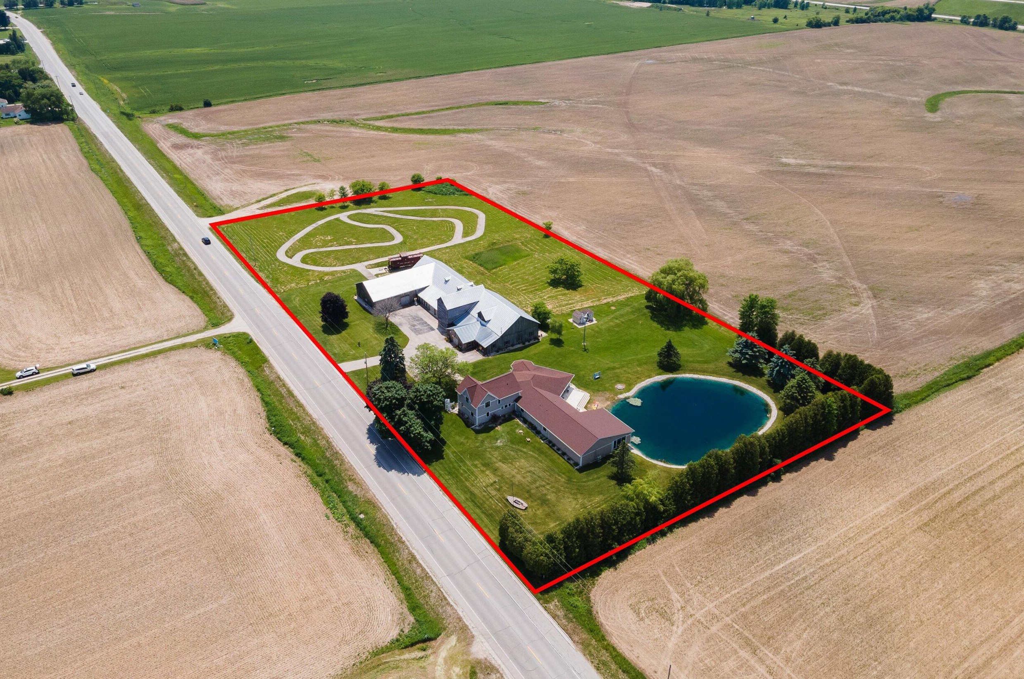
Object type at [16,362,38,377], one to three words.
car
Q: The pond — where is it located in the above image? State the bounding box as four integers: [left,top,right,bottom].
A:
[608,377,771,465]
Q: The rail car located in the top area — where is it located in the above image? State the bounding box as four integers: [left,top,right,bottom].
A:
[387,251,420,269]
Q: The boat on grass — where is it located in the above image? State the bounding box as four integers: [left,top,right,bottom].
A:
[509,496,529,512]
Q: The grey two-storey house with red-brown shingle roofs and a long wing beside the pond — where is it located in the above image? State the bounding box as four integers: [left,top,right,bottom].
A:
[454,359,634,469]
